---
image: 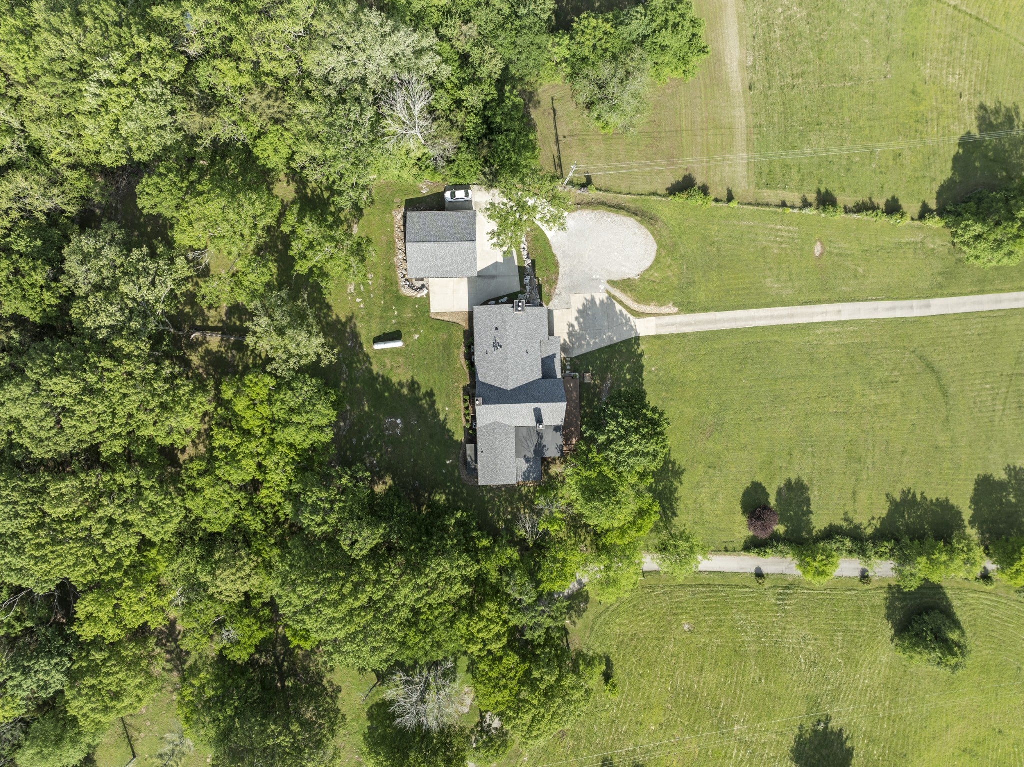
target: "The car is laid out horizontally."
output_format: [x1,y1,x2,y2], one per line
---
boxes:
[445,189,473,203]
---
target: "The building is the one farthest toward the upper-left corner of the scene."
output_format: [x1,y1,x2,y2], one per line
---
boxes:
[404,212,477,279]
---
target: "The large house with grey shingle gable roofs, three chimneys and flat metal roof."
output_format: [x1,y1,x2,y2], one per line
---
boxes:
[467,300,567,485]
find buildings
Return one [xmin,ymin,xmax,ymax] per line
[467,300,567,485]
[404,212,477,279]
